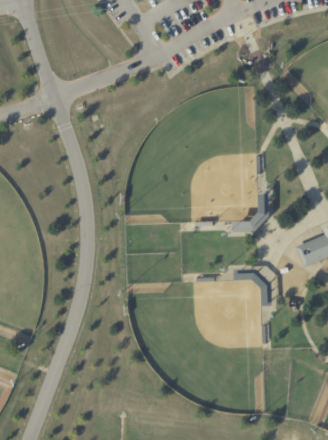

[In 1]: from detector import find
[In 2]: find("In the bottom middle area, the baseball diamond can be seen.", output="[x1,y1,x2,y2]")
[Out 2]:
[128,280,264,414]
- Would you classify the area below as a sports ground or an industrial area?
sports ground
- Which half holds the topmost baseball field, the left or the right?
right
